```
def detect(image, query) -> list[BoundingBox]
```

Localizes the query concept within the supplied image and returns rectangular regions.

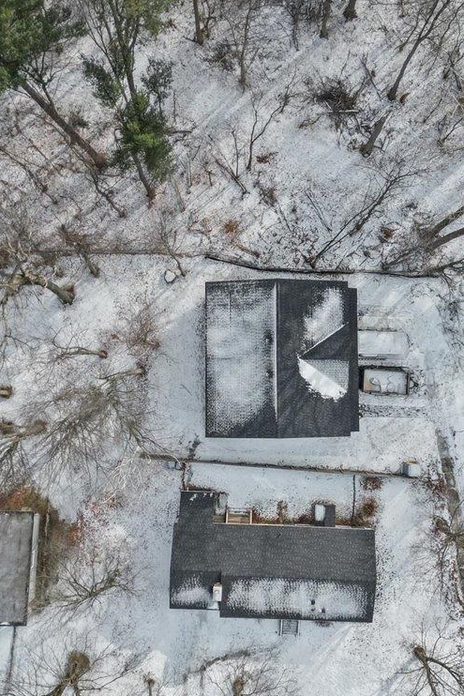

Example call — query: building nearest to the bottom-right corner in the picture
[169,489,378,633]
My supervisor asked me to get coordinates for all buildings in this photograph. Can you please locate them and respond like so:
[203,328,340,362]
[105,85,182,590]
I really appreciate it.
[169,489,378,633]
[206,279,358,438]
[0,509,41,628]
